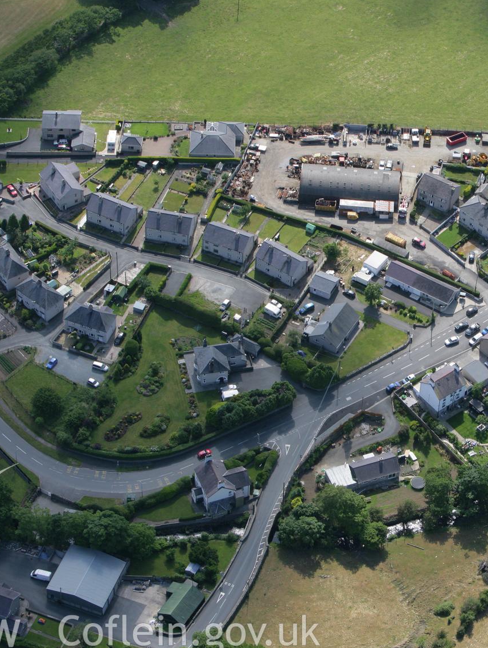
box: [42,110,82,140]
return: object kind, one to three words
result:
house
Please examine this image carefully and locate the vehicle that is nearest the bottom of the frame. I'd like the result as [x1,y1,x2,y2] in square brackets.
[30,566,52,581]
